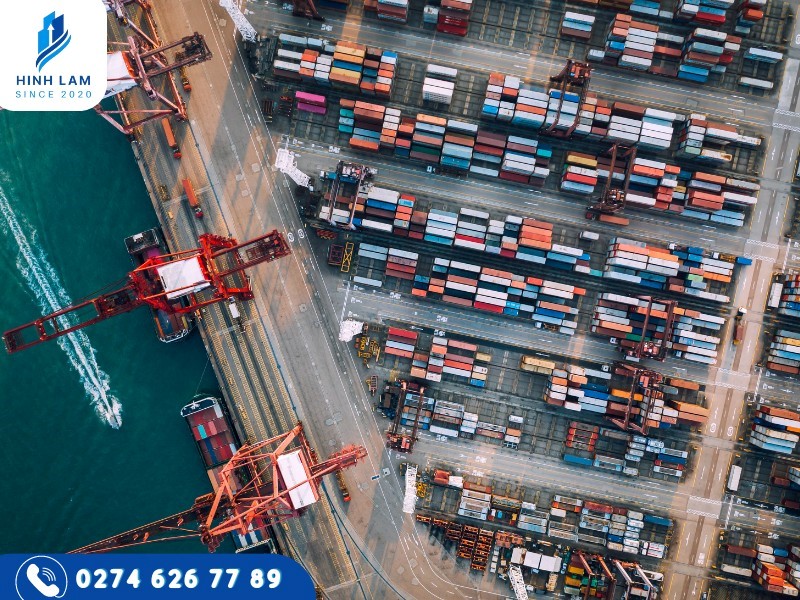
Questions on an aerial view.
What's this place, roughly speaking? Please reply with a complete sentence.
What you see here is a port.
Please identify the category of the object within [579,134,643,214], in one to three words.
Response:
container crane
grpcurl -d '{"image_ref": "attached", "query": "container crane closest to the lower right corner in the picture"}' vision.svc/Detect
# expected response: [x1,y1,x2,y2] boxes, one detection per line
[606,553,660,600]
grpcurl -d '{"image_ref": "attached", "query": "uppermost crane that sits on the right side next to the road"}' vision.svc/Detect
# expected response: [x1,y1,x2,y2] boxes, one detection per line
[535,55,595,141]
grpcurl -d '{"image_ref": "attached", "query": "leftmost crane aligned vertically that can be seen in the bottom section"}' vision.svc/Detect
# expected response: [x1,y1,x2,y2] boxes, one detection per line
[384,374,429,453]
